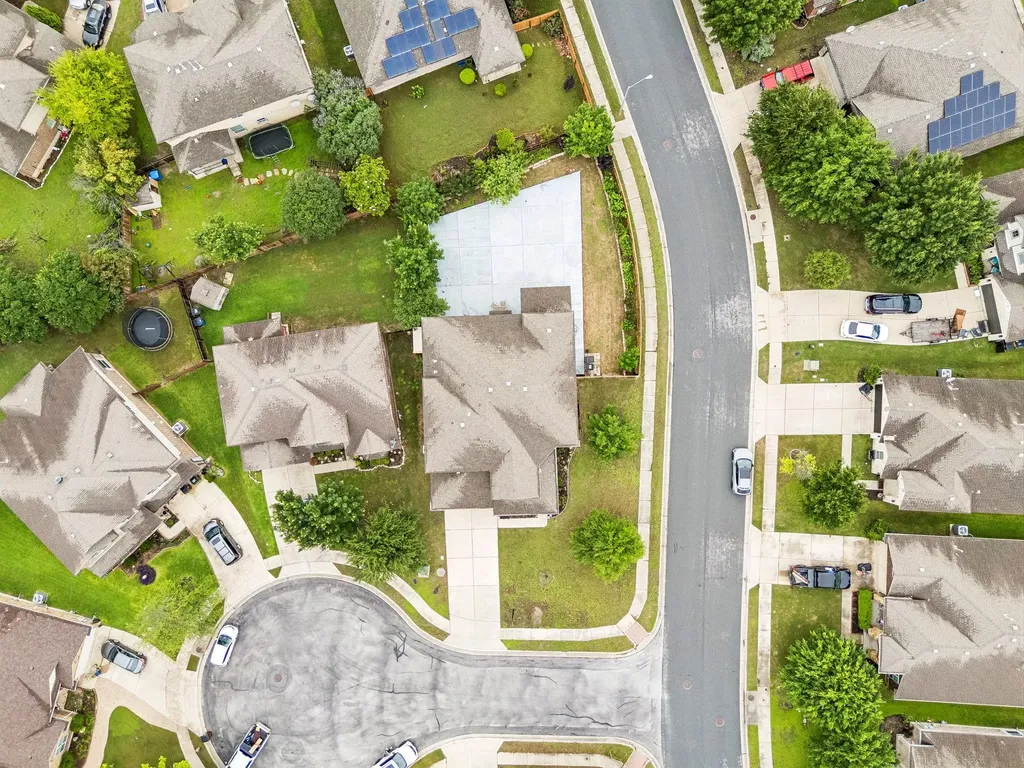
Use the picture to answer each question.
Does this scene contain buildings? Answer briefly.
Yes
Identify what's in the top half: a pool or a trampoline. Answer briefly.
trampoline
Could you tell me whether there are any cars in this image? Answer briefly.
Yes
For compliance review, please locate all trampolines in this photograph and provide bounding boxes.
[118,306,172,351]
[244,120,295,163]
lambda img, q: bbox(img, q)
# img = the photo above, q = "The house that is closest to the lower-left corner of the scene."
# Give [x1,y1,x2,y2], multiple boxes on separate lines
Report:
[0,595,108,768]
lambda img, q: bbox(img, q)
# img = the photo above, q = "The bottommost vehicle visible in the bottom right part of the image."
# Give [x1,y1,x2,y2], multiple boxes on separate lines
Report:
[787,564,853,591]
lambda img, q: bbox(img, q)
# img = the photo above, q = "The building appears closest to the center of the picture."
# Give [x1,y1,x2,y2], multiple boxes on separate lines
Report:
[412,286,579,517]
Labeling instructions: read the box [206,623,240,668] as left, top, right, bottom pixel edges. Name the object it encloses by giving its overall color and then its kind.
white car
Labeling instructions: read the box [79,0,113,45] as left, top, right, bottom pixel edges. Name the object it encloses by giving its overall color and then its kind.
gray car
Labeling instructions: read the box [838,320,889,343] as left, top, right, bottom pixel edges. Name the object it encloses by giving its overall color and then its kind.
white car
